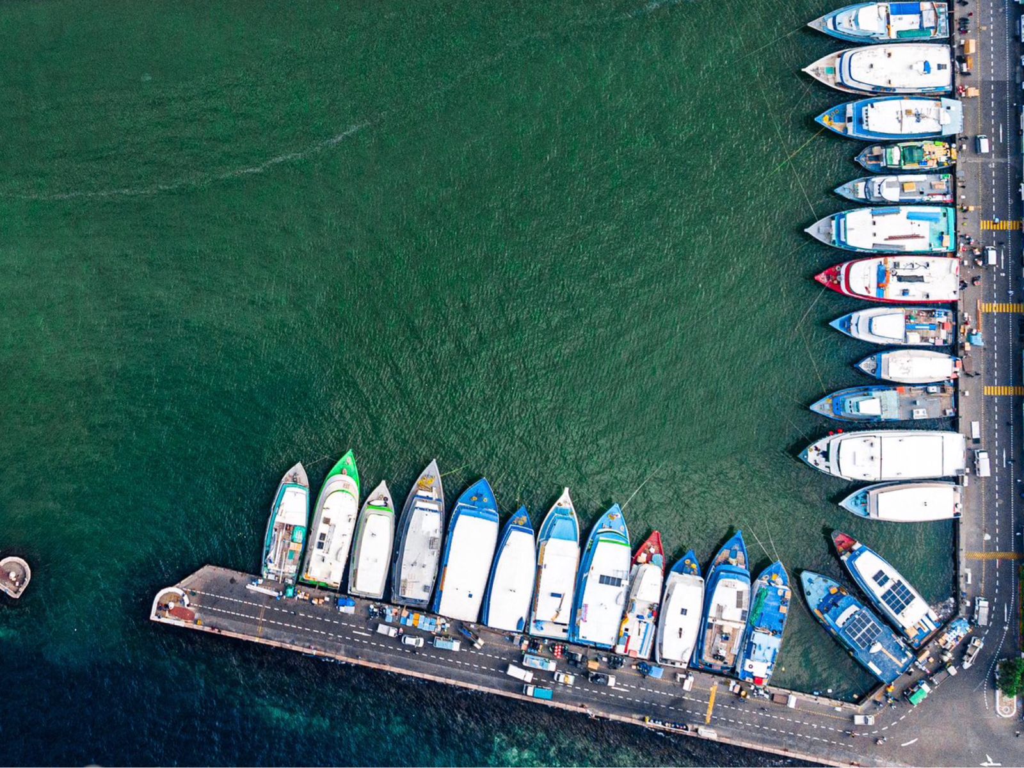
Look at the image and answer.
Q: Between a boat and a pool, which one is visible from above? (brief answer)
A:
boat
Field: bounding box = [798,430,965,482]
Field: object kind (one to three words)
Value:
boat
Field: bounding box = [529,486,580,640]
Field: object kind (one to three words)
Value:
boat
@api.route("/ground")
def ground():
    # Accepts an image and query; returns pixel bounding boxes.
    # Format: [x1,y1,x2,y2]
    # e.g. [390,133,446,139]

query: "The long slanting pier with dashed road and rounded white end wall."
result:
[149,564,859,768]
